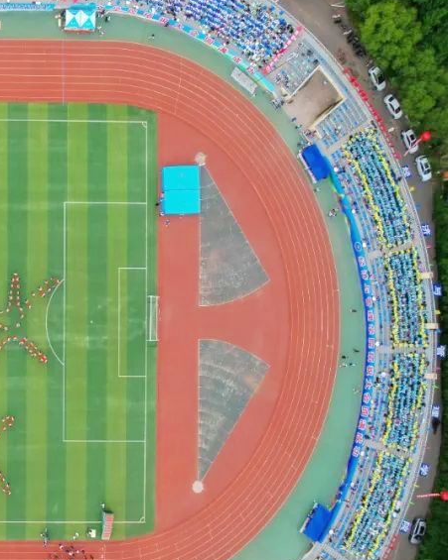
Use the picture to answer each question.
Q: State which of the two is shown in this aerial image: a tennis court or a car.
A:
car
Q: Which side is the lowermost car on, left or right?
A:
right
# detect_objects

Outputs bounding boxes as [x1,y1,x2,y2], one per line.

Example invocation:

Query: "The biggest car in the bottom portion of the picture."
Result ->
[407,517,427,545]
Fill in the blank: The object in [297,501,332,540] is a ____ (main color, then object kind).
blue tent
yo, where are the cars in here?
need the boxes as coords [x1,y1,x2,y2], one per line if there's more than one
[407,517,427,545]
[412,154,431,181]
[399,127,419,154]
[366,65,387,92]
[380,92,403,119]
